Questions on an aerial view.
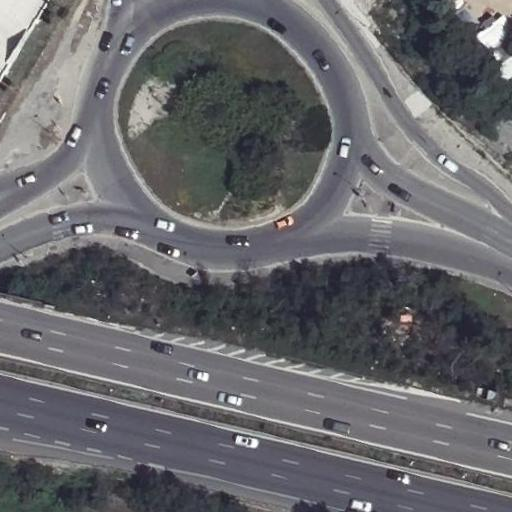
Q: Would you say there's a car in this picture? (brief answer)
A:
Yes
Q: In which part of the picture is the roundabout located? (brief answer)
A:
top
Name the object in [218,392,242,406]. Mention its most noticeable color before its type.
white vehicle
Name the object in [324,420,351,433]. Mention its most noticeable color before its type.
gray vehicle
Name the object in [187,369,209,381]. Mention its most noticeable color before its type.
white vehicle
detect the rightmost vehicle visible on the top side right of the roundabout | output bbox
[436,153,459,173]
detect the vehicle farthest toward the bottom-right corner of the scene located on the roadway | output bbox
[488,439,511,451]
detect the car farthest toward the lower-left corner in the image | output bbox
[85,420,106,432]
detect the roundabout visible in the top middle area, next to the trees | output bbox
[82,0,367,264]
